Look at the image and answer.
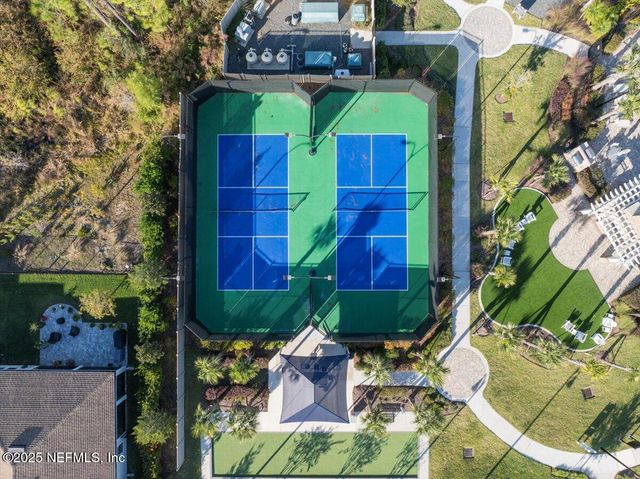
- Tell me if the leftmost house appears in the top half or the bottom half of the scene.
bottom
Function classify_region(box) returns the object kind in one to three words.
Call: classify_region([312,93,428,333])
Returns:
sports court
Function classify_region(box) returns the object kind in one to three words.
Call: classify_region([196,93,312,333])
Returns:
sports court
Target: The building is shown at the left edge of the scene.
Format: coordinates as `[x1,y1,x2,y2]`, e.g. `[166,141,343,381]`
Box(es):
[0,361,129,479]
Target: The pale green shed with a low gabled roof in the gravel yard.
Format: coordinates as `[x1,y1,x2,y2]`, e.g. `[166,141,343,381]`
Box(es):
[301,2,338,26]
